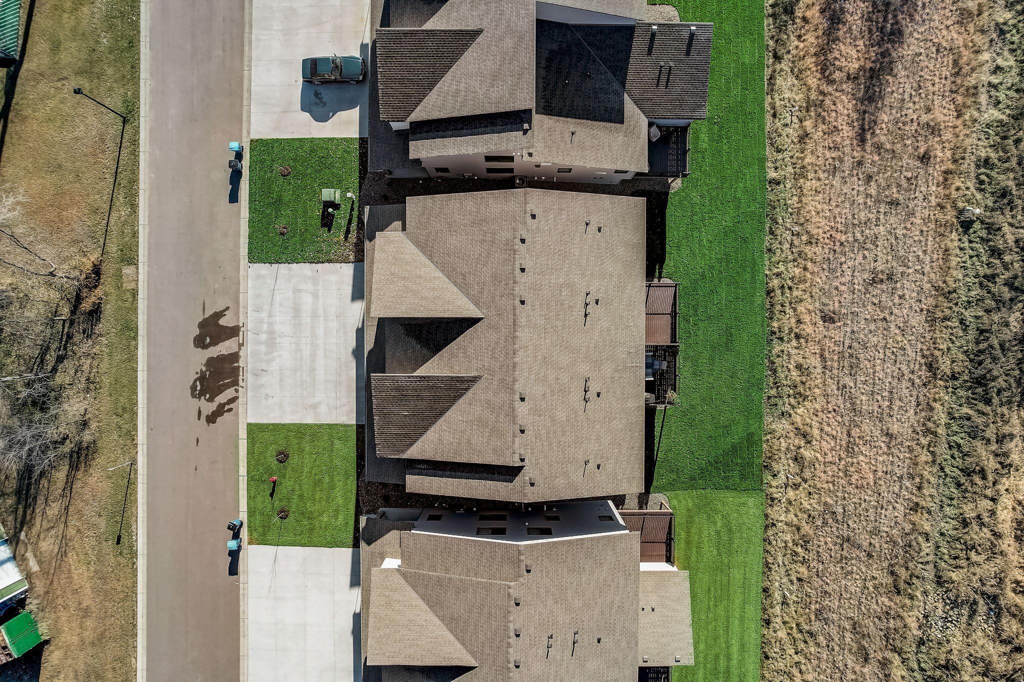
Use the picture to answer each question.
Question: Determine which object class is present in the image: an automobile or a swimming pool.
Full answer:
The image shows an automobile.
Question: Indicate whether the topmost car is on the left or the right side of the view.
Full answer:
The topmost car appears in the left half of the scene.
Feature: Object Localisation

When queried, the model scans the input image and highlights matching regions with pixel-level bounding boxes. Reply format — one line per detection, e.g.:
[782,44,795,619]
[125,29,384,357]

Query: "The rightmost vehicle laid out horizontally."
[300,52,365,84]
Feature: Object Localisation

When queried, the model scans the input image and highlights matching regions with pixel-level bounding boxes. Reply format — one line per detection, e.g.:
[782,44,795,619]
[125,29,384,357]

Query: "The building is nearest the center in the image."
[365,188,683,503]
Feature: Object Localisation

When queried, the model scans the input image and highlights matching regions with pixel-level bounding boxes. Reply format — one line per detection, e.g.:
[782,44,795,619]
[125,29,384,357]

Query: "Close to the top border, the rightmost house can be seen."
[368,0,714,188]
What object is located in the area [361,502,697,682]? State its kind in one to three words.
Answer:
house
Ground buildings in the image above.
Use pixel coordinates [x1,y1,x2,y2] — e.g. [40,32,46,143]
[361,502,697,682]
[368,0,714,188]
[365,188,683,503]
[0,0,27,56]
